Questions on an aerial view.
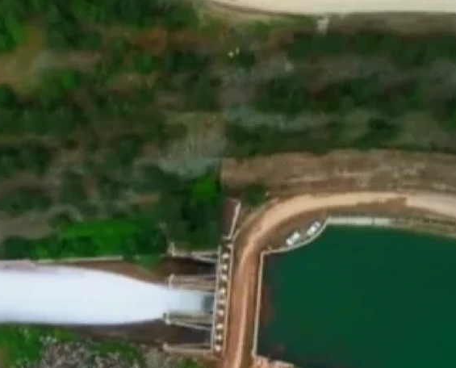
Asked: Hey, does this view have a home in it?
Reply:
No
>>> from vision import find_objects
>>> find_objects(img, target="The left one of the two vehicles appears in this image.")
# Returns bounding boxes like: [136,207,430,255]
[284,231,301,246]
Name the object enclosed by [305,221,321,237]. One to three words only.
car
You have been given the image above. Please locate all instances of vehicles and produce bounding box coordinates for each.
[284,231,301,246]
[305,221,321,237]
